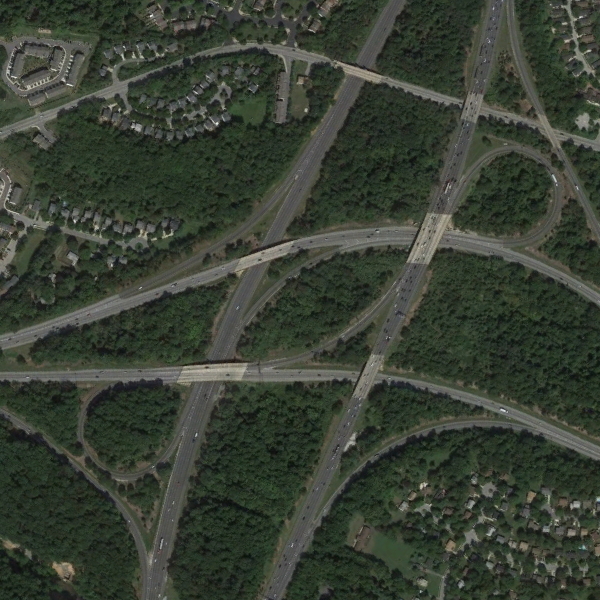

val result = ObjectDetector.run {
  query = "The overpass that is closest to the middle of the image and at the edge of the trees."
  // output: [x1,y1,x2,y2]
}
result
[235,238,296,273]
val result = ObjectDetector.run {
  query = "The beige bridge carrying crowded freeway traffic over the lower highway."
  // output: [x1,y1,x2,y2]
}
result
[352,354,384,398]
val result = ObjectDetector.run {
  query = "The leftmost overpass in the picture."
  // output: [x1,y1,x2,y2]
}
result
[177,364,248,383]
